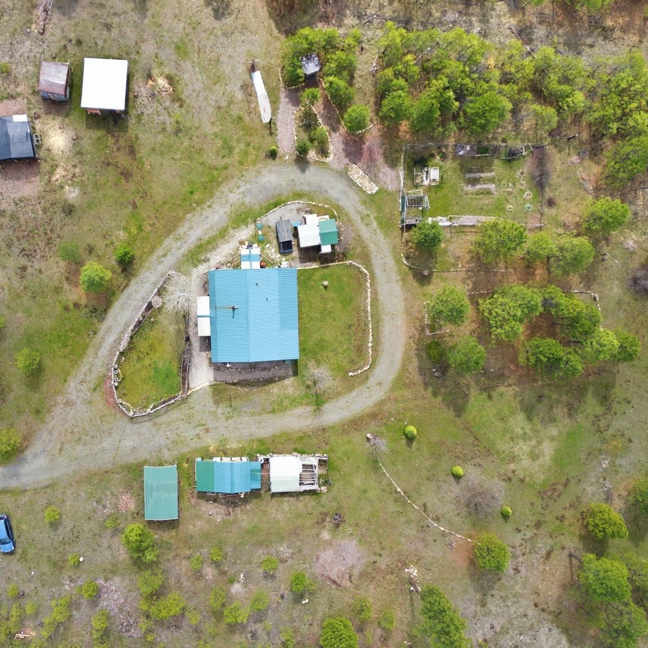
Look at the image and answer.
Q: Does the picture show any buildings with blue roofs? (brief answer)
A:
Yes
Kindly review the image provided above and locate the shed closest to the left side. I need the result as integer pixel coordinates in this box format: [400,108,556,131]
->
[0,116,39,165]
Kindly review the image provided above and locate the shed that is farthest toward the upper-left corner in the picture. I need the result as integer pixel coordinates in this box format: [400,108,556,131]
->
[37,55,77,105]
